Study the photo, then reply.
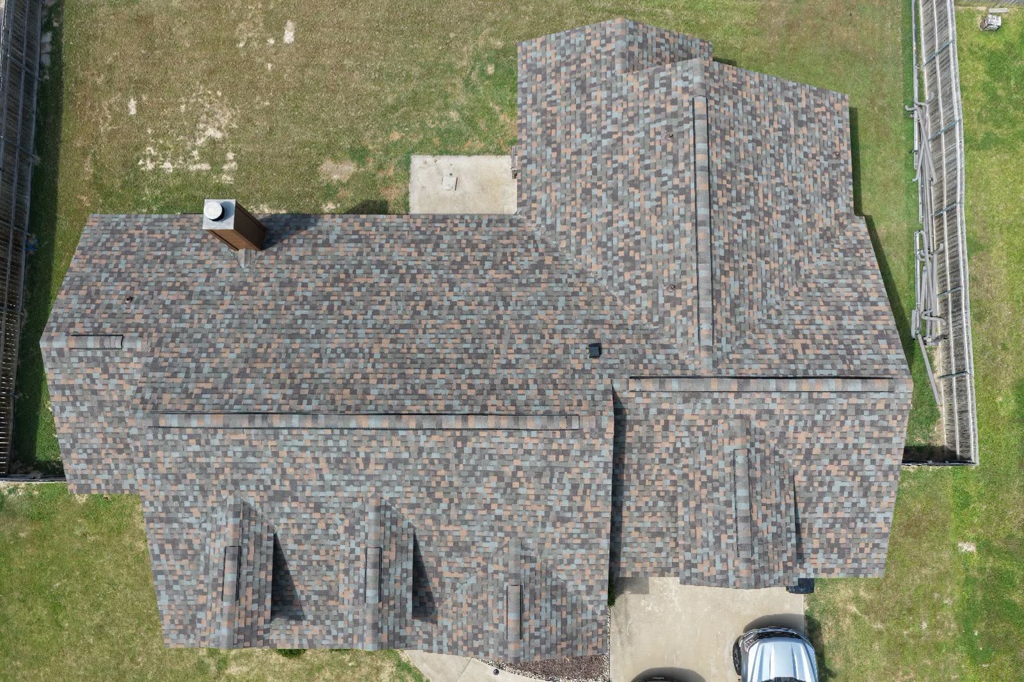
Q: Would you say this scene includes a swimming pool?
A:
No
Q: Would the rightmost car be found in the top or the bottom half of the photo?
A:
bottom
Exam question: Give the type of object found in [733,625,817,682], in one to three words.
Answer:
car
